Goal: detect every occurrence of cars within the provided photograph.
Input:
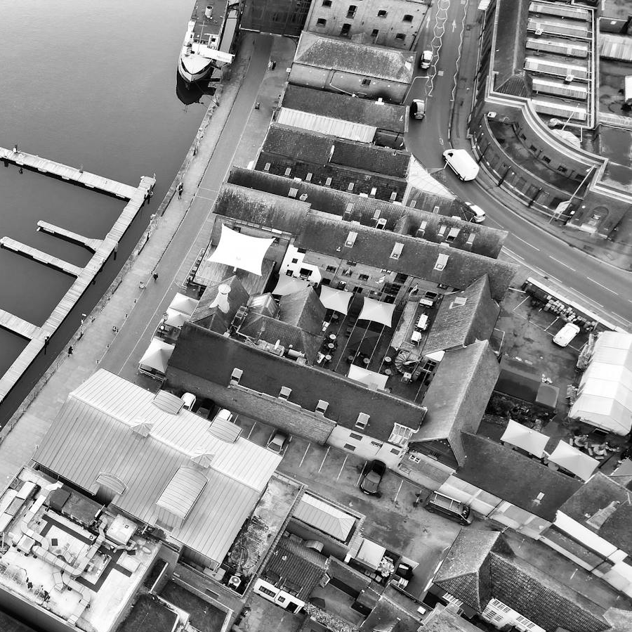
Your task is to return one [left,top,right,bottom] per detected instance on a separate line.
[411,100,425,121]
[466,202,488,223]
[359,459,390,494]
[418,53,434,71]
[196,394,217,421]
[264,424,291,455]
[552,323,580,347]
[182,386,197,411]
[214,403,235,419]
[424,486,469,524]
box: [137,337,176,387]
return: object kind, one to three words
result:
tent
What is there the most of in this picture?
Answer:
buildings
